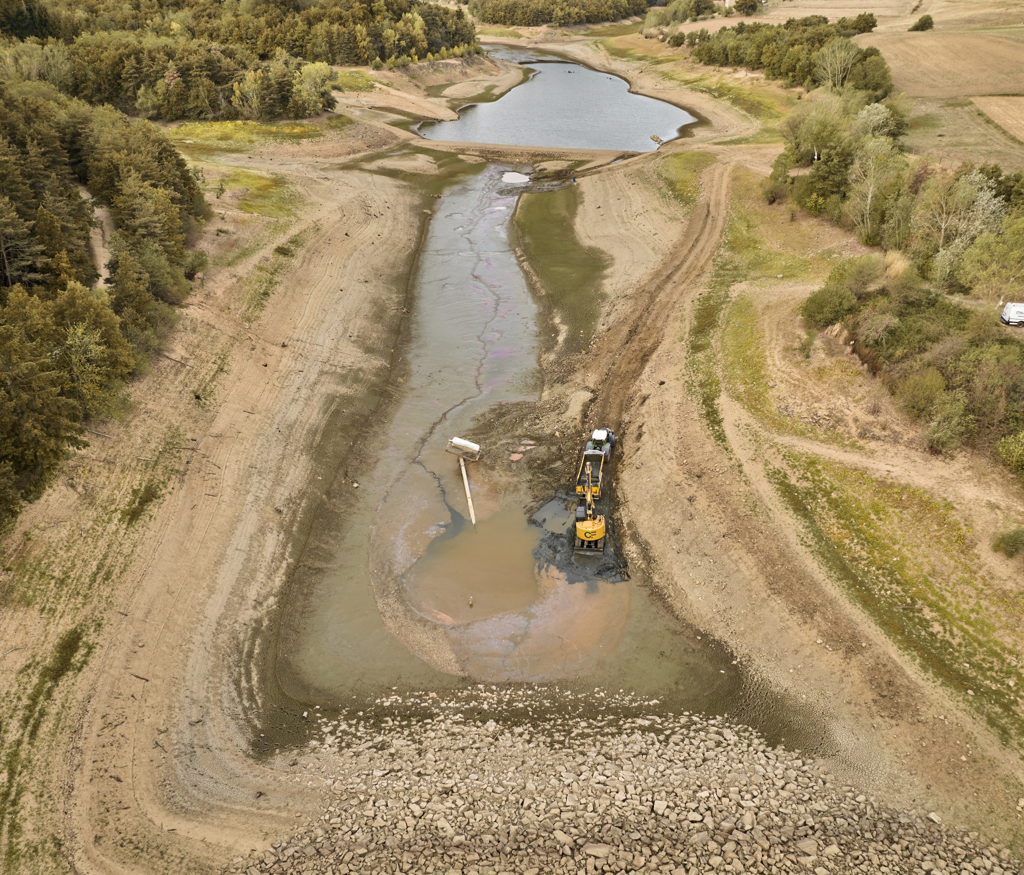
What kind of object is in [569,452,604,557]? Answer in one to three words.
work vehicle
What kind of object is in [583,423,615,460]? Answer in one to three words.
work vehicle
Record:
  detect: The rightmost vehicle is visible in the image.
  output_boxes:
[999,298,1024,323]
